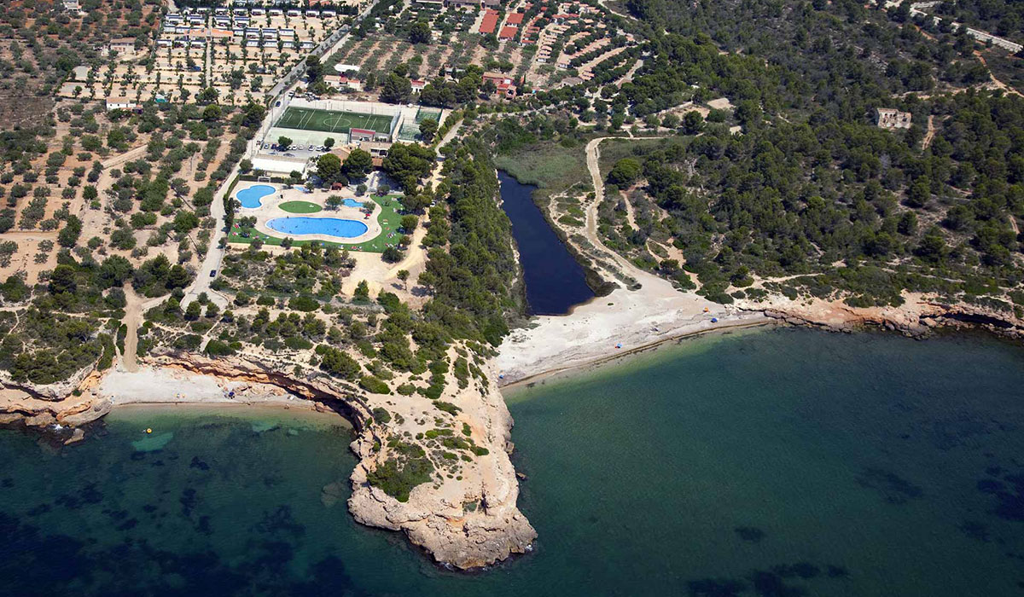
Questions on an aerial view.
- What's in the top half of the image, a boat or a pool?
pool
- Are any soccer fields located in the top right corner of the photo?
No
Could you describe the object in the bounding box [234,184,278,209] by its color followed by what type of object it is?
blue swimming pool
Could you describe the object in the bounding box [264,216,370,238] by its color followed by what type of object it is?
blue swimming pool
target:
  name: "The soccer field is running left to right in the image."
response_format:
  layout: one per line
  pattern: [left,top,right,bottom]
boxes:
[274,107,392,133]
